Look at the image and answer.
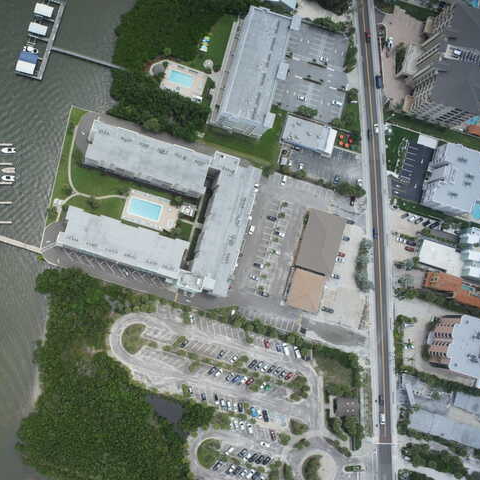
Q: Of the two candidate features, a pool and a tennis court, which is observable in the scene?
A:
pool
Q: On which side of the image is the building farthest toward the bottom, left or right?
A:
right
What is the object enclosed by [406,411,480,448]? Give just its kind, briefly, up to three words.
building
